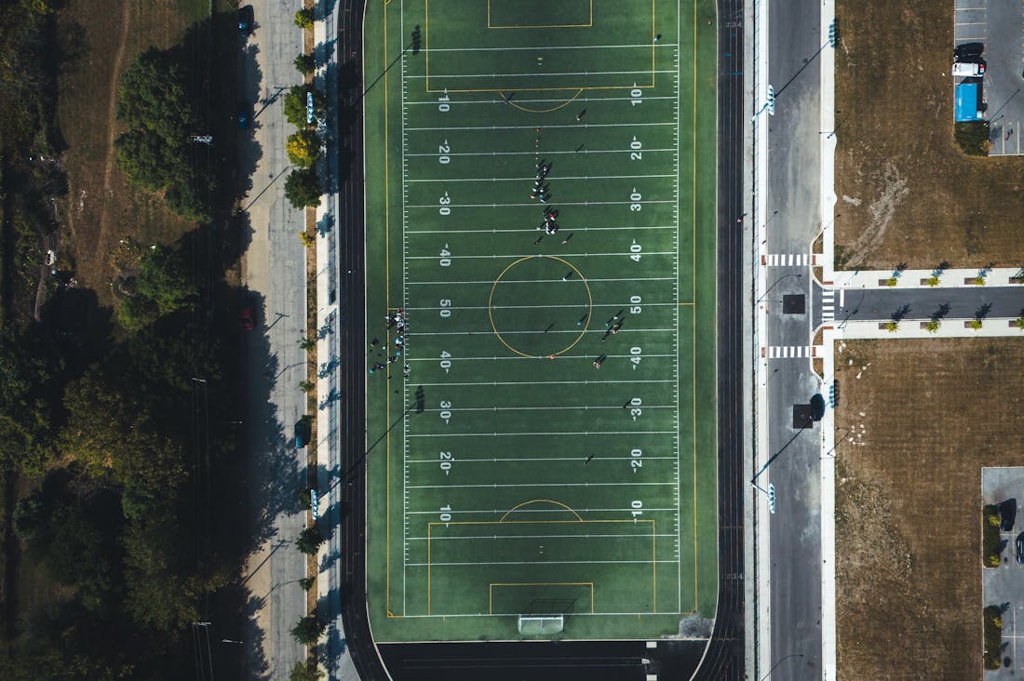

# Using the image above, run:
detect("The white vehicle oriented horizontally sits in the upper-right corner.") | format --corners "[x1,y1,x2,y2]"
[950,64,985,78]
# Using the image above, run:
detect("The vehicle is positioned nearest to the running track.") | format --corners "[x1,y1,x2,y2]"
[295,421,307,447]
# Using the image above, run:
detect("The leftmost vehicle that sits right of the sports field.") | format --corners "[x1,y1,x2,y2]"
[810,397,823,423]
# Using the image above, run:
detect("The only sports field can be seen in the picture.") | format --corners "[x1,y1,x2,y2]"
[365,0,716,644]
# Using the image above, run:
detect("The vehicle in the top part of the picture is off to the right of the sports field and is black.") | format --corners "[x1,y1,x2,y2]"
[955,47,983,60]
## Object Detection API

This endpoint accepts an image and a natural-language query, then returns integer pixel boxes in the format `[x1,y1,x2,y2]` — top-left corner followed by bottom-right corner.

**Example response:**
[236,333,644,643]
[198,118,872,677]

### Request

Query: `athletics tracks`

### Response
[337,0,744,681]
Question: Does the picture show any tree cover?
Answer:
Yes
